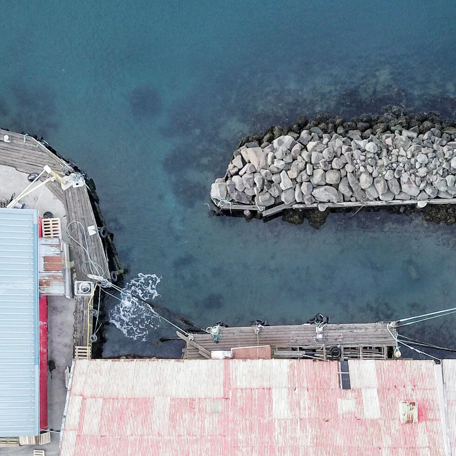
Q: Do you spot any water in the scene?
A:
Yes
